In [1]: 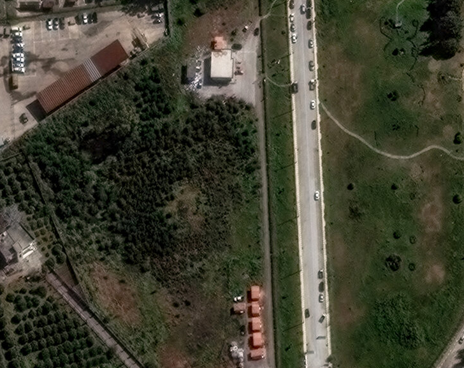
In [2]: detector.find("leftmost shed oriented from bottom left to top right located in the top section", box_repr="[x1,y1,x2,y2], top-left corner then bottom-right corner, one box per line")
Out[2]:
[36,64,94,118]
